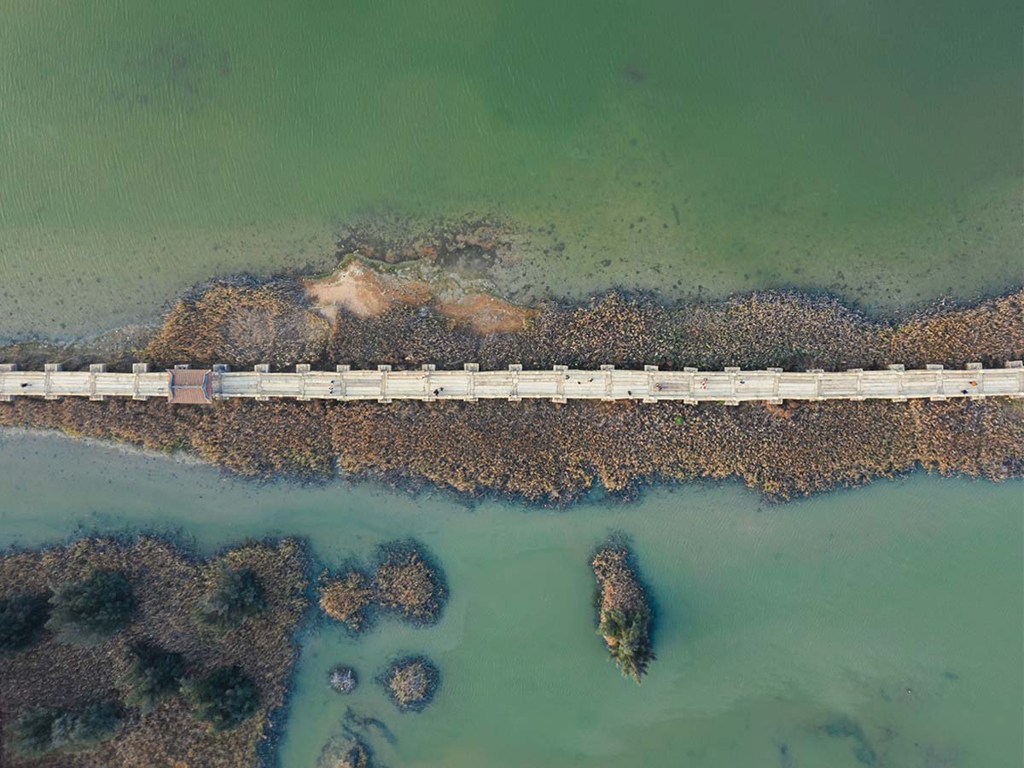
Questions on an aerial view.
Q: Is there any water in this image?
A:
Yes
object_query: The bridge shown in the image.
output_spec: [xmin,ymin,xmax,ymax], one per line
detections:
[0,361,1024,406]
